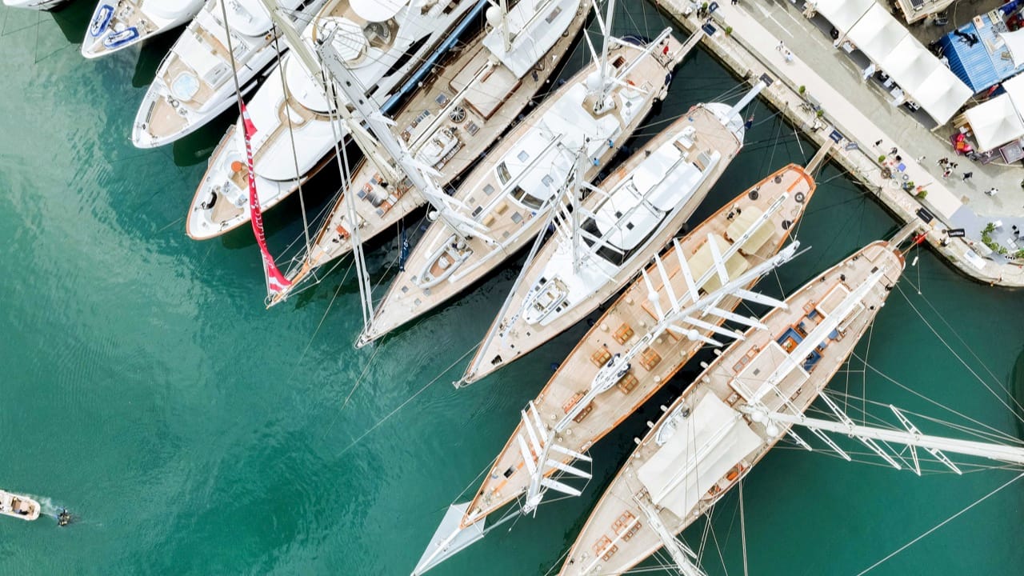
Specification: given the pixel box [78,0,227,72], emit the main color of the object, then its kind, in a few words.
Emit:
white boat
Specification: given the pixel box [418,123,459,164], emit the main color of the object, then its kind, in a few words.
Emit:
white boat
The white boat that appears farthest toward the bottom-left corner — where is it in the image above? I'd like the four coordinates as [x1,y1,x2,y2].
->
[0,488,43,523]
